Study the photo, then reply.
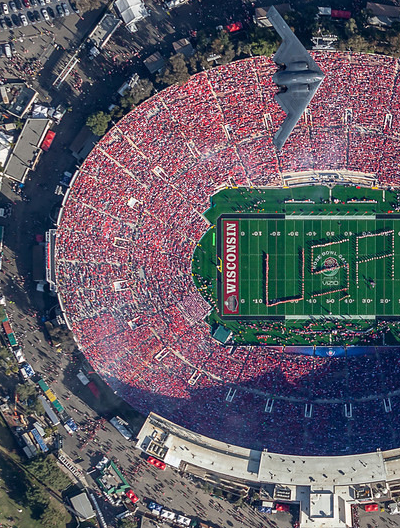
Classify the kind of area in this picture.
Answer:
sports ground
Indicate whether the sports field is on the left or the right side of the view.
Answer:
right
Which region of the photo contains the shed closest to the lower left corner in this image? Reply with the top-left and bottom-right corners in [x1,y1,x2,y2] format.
[70,492,95,522]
